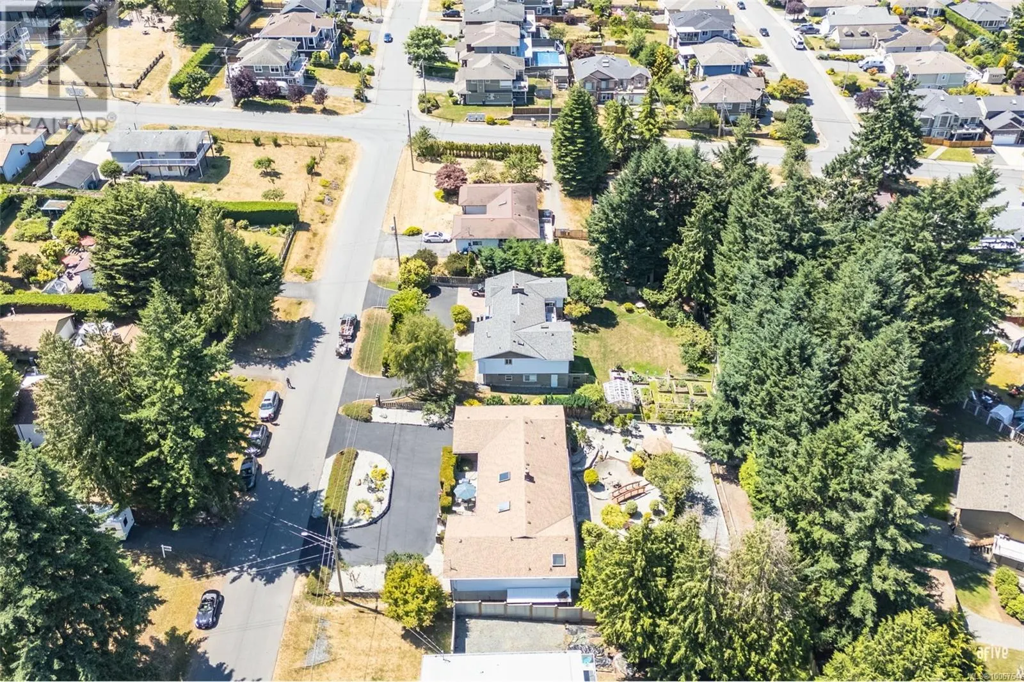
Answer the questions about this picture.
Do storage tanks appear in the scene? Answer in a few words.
No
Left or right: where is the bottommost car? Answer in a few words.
left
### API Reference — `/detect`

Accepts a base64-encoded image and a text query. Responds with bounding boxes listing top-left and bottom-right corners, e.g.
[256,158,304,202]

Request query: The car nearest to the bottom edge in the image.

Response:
[194,584,225,628]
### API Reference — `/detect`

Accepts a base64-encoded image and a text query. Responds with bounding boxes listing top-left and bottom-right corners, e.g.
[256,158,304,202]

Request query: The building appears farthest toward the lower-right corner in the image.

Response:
[946,439,1024,567]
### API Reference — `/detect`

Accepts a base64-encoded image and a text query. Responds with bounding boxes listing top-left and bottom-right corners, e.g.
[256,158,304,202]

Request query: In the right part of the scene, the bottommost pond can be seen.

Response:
[591,458,648,511]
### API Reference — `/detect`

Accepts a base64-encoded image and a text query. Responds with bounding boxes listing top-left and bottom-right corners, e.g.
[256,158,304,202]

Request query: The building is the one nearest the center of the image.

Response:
[473,266,576,392]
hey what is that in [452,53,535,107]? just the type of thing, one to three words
house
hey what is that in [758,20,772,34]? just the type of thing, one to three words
car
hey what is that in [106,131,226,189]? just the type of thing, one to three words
house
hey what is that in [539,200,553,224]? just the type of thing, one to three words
car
